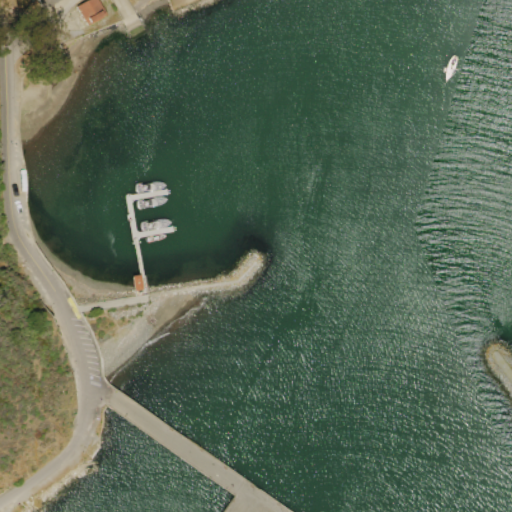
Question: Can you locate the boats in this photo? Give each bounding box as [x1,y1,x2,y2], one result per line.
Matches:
[146,234,166,243]
[135,182,167,192]
[136,197,168,209]
[446,56,457,82]
[140,220,172,232]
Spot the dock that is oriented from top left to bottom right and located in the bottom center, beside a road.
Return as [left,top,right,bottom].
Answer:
[107,386,296,512]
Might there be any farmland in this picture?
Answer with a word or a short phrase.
No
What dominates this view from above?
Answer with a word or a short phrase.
water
